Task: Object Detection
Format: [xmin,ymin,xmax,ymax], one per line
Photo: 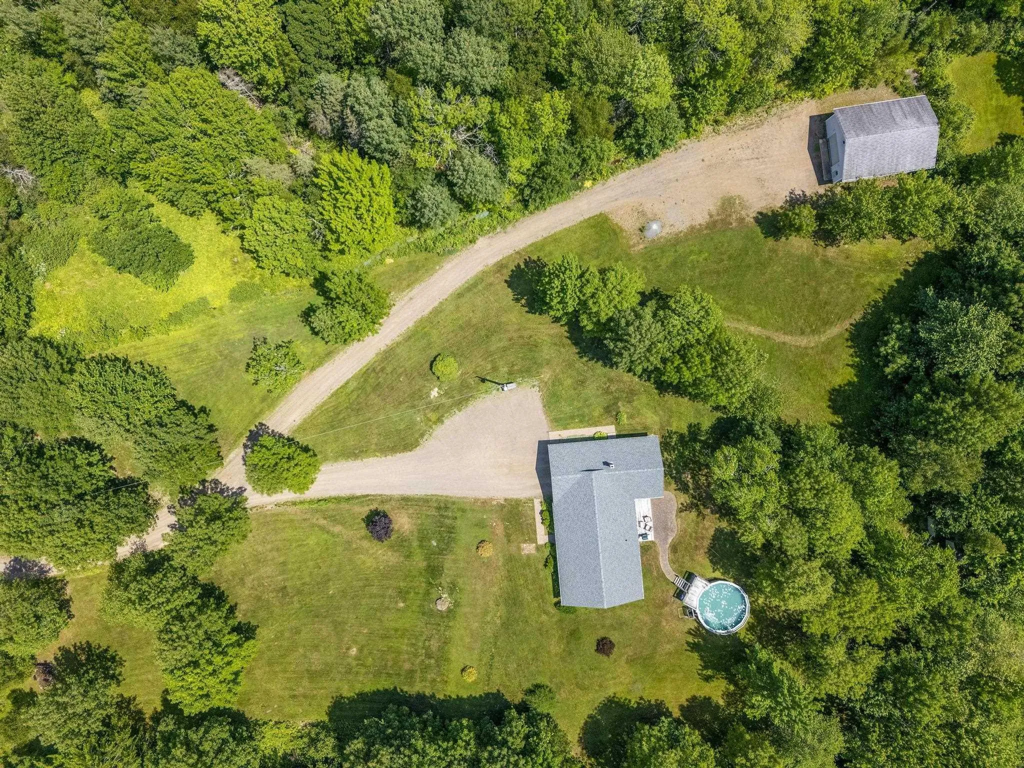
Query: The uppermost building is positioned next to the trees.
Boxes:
[826,94,943,185]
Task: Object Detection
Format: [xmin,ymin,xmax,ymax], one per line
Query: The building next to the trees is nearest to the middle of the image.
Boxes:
[548,434,664,609]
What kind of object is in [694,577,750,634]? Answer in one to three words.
swimming pool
